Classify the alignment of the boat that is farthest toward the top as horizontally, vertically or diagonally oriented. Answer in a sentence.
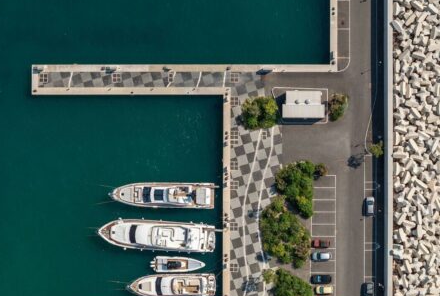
The boat that is farthest toward the top is laid out horizontally.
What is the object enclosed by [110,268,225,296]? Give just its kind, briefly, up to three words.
boat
